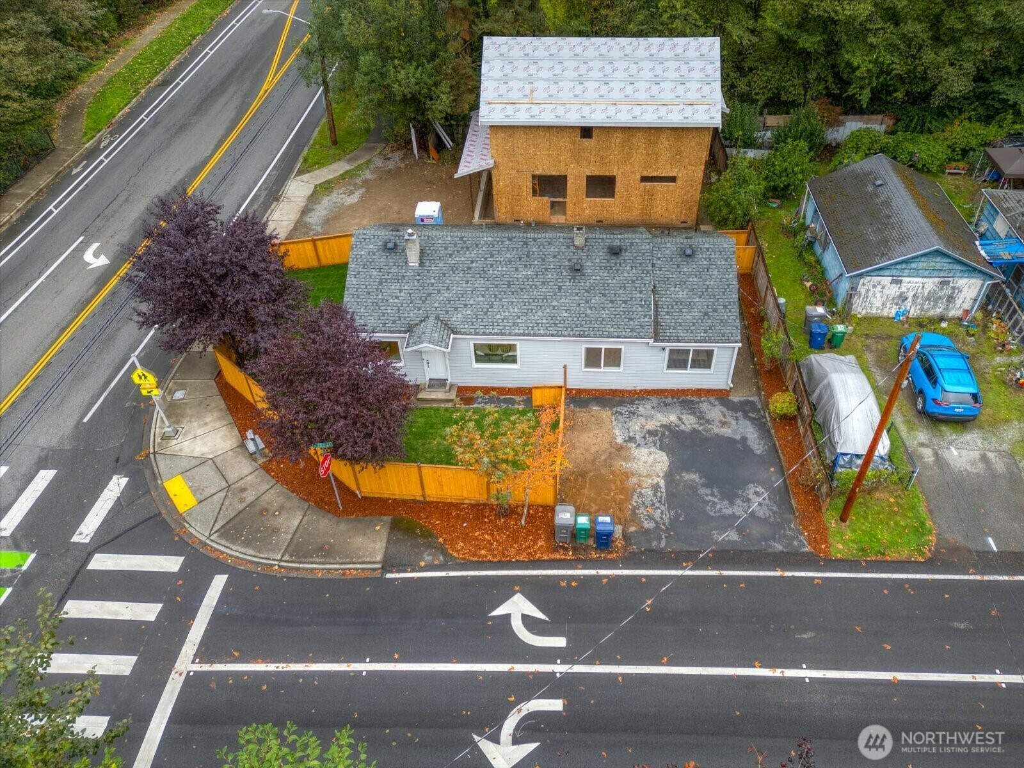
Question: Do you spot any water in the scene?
No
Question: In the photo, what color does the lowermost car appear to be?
blue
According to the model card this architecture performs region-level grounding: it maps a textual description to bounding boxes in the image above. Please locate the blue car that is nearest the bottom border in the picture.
[899,334,985,421]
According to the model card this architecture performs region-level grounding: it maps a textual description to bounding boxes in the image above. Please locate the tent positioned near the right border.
[970,151,1024,187]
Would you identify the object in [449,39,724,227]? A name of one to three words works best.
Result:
house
